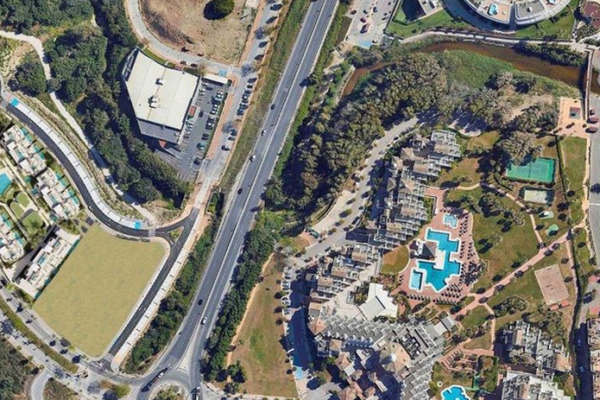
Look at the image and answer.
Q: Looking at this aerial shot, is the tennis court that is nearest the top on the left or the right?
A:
right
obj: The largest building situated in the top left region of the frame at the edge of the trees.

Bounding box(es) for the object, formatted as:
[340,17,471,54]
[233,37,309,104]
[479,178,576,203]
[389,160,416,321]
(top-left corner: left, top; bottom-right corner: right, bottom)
[122,49,198,148]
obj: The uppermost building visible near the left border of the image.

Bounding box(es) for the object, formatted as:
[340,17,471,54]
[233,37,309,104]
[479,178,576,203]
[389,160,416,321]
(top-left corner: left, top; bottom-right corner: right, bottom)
[3,121,53,175]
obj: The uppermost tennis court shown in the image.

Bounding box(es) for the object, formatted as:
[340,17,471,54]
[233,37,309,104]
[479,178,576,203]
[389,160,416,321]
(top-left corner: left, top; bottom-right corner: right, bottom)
[506,156,556,182]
